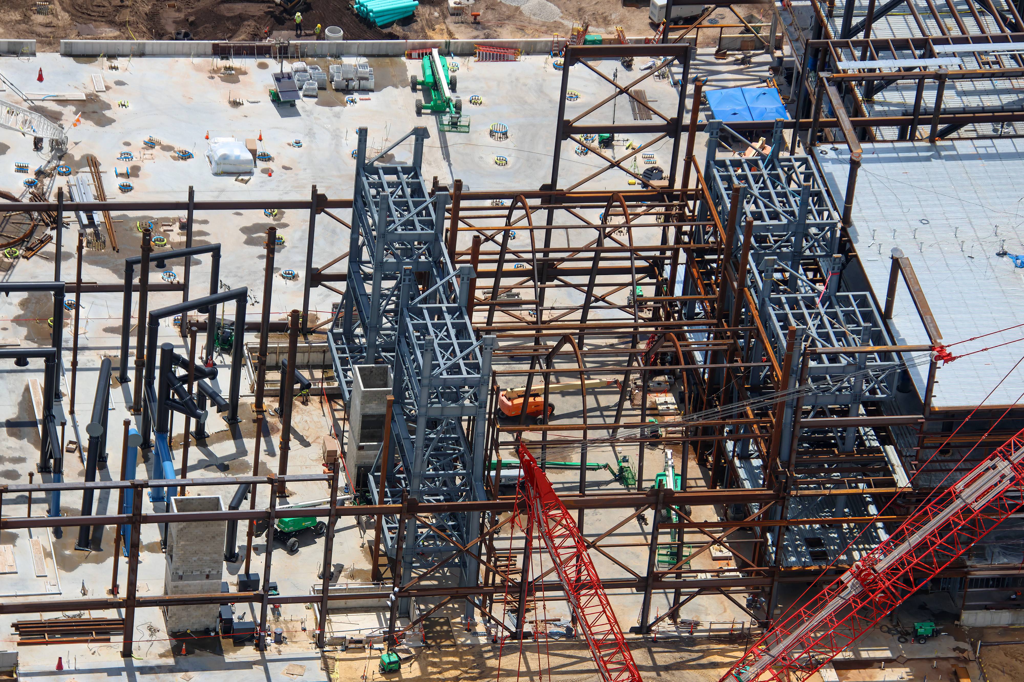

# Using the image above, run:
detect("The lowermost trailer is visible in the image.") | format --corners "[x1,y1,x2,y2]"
[361,644,406,682]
